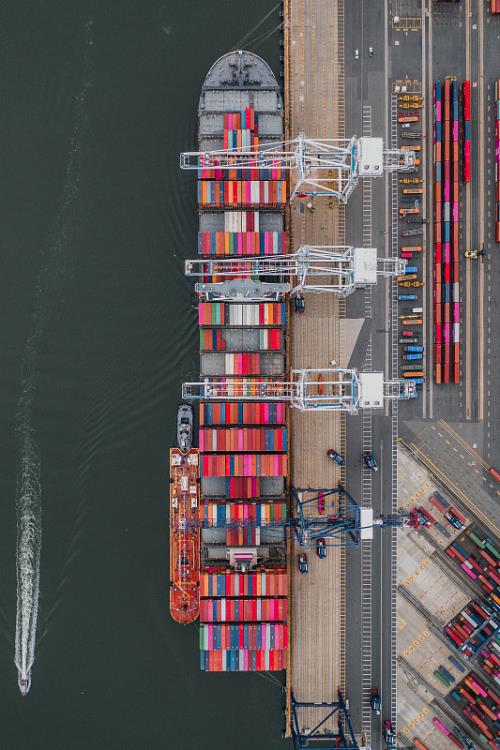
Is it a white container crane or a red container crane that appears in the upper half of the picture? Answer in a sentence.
Looking in the upper half of the picture, you will find a white container crane.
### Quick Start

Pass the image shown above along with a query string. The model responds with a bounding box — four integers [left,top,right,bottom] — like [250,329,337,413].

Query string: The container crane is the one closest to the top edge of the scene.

[180,132,421,207]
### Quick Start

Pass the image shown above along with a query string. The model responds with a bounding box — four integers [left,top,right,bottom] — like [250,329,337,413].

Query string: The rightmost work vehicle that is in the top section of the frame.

[464,242,488,263]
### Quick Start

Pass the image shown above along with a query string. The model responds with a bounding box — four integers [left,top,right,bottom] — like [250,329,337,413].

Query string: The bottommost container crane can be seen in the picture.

[291,678,372,750]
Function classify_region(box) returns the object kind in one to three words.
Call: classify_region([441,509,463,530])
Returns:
work vehicle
